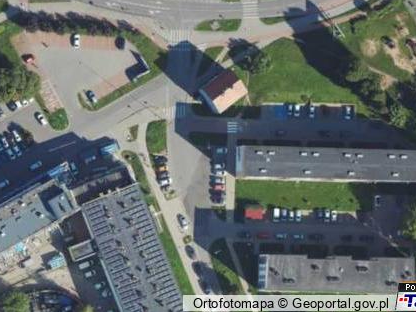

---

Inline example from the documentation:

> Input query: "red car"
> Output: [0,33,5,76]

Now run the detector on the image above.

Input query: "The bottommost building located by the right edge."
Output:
[260,254,415,293]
